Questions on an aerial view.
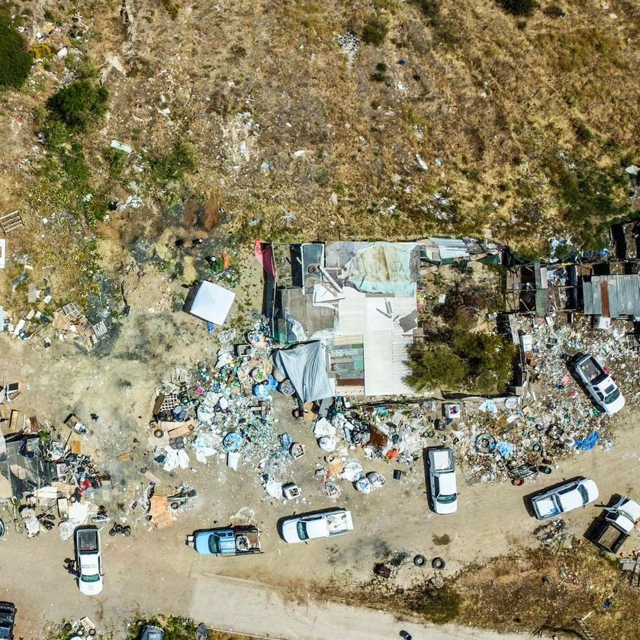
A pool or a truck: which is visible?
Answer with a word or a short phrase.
truck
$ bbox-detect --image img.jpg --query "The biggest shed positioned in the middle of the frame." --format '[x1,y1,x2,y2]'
[275,243,421,397]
